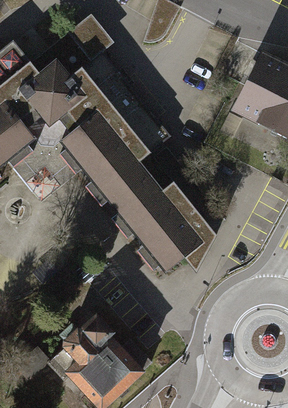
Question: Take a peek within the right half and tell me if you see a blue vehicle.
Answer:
Yes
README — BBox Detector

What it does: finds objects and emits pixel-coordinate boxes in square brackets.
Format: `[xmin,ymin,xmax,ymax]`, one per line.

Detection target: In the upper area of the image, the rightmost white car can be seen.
[190,62,212,78]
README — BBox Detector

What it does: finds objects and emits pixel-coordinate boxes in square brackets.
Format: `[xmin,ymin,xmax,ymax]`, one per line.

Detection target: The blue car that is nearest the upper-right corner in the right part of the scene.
[183,74,206,90]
